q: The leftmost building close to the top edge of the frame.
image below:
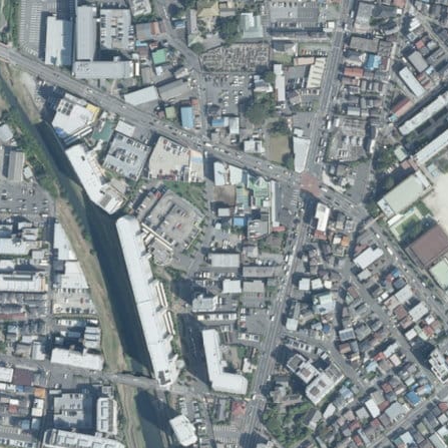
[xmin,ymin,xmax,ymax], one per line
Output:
[46,17,73,66]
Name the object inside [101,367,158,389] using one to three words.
bridge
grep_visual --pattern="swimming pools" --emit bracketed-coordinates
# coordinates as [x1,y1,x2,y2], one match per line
[389,206,428,241]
